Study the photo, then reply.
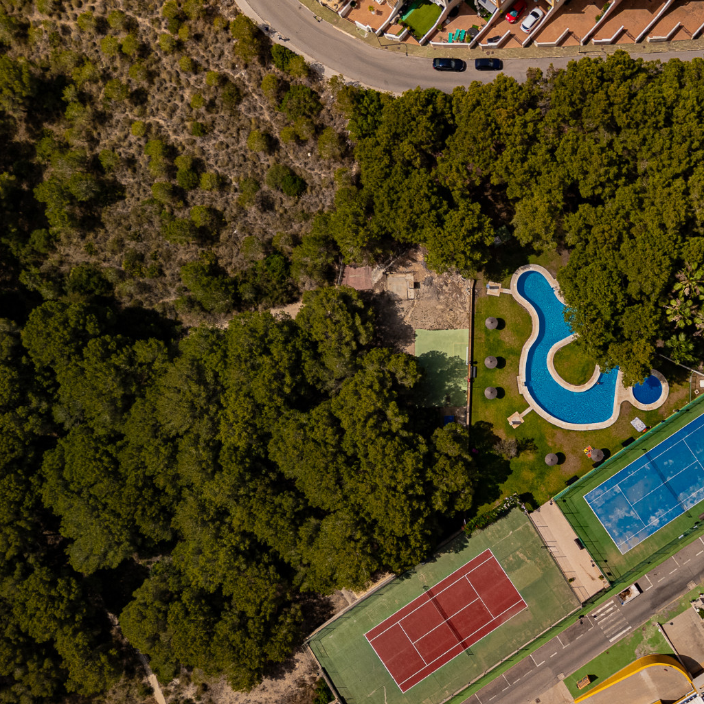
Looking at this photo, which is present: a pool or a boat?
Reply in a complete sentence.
Visible in the photo is a pool.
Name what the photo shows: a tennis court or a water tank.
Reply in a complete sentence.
The one in the frame is a tennis court.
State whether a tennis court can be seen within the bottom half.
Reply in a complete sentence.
Yes, a tennis court can be seen within the bottom half.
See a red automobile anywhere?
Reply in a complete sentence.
Yes, there's a red automobile here.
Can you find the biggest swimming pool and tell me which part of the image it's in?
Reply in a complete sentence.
Look in the right portion of the view to spot the biggest swimming pool.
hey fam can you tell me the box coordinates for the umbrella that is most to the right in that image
[590,449,603,461]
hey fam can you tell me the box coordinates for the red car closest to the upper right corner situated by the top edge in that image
[503,0,527,20]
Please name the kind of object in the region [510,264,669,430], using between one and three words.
swimming pool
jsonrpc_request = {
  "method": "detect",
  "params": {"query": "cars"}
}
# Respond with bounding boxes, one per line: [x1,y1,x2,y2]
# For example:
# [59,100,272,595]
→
[519,4,544,31]
[503,0,527,20]
[474,54,501,70]
[432,55,464,71]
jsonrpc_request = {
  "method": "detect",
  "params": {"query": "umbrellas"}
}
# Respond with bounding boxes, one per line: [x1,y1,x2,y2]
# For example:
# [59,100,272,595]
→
[590,449,603,461]
[544,453,558,466]
[484,356,498,369]
[485,317,498,331]
[484,386,497,400]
